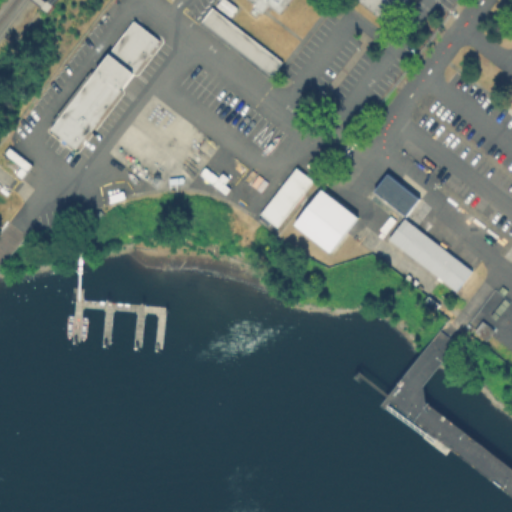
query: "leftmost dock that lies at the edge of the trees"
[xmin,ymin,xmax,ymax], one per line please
[72,256,168,352]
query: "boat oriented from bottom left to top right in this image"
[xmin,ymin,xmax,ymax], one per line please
[264,137,281,154]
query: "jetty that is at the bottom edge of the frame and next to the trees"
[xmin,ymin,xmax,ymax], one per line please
[354,330,512,497]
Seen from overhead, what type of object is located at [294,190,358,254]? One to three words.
building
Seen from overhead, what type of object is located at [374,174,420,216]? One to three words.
building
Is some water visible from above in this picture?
Yes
